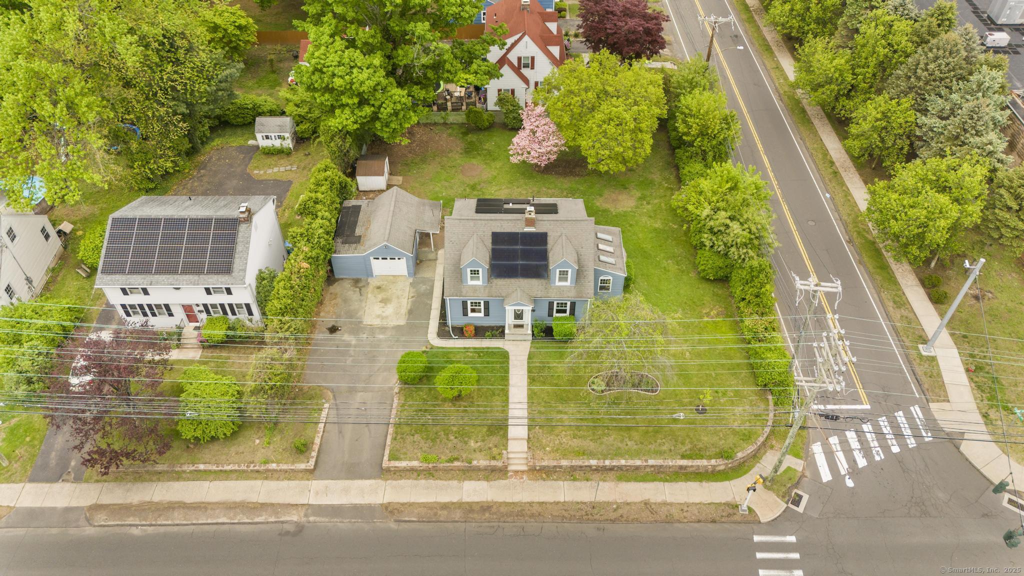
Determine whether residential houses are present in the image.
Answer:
Yes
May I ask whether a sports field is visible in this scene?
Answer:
No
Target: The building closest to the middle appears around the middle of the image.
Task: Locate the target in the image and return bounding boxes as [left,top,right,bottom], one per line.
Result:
[443,193,630,343]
